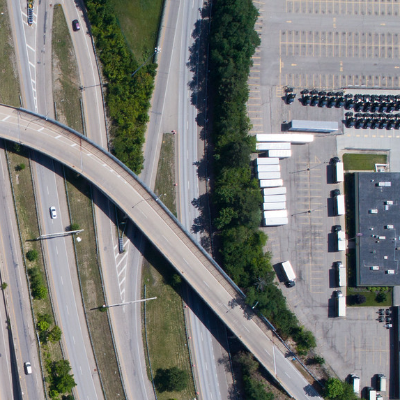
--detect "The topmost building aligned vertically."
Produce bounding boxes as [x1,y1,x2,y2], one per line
[348,162,400,286]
